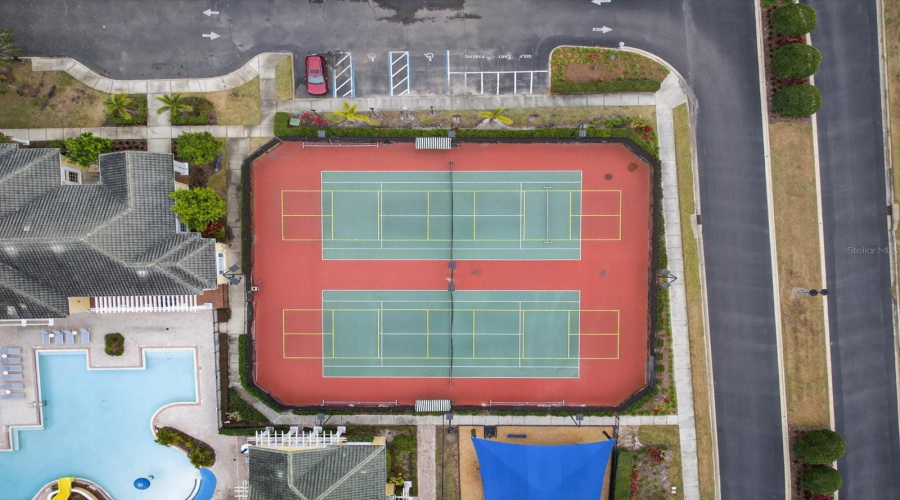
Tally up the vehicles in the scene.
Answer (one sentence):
There is 1 vehicle in the image.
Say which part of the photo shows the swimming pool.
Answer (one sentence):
You can find the swimming pool in the bottom left area of the picture.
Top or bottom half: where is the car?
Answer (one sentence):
The car sits in the top half of the picture.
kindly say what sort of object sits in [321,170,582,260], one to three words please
tennis court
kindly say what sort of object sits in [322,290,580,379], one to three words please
tennis court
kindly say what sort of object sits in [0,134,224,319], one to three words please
building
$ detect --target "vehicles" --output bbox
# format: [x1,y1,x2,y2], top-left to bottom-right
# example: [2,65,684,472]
[306,56,330,97]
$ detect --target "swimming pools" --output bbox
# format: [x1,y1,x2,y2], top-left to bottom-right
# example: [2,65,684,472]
[0,344,200,500]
